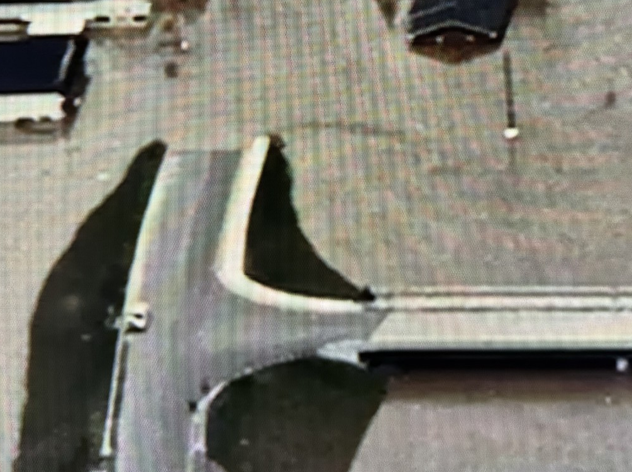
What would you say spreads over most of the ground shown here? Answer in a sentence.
The bulk of the photo consists of water.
